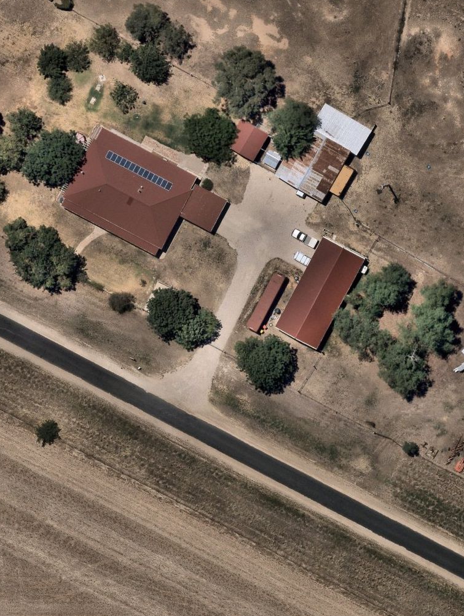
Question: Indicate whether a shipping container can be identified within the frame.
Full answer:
Yes, the image includes a shipping container.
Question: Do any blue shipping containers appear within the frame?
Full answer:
No, there isn't any blue shipping container down there.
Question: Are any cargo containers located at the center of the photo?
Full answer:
Yes, at the center of the photo there is a cargo container.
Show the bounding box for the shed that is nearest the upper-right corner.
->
[315,103,372,155]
